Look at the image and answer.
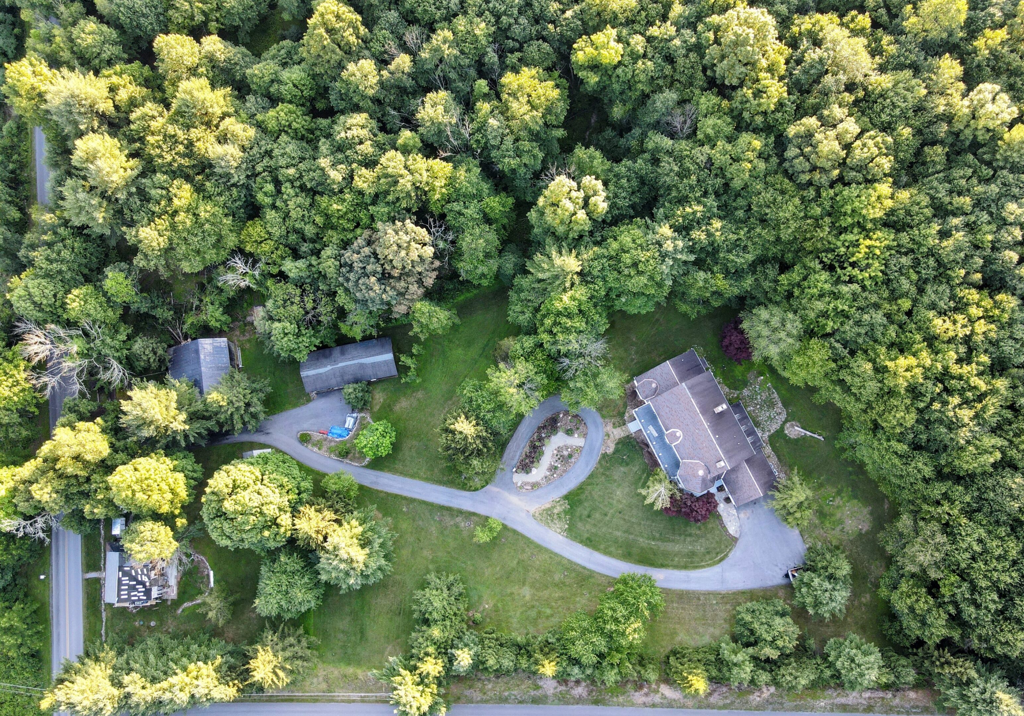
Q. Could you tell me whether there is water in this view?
No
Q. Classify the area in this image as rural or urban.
rural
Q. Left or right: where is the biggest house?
right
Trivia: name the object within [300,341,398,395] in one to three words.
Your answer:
shed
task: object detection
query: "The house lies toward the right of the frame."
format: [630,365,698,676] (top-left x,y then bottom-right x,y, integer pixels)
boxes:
[627,348,776,507]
